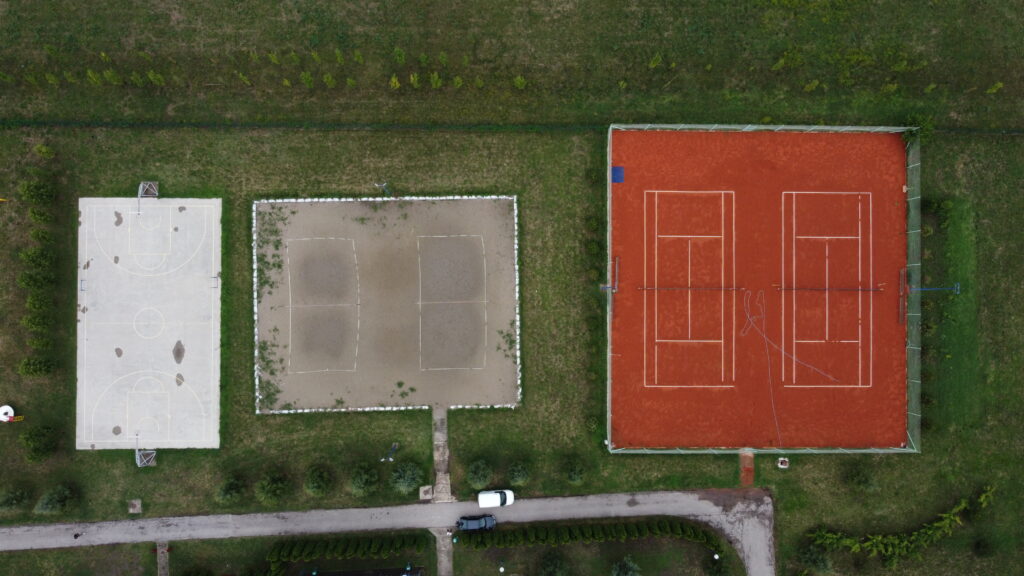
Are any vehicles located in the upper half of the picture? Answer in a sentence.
No, there is no vehicle in the upper half of the picture.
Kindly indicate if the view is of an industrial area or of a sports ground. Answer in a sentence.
The area seen from above is a sports ground.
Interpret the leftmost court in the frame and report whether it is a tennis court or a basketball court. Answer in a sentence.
Specifically, the leftmost court is a basketball court.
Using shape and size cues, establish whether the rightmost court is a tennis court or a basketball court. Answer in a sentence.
The rightmost court is a tennis court.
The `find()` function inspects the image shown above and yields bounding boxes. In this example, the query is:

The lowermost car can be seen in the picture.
[459,514,496,531]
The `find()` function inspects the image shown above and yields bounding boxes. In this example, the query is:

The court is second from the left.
[254,198,390,413]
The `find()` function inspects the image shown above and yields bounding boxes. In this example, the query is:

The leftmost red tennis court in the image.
[608,130,759,448]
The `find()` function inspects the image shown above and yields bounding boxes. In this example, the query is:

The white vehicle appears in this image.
[476,488,514,507]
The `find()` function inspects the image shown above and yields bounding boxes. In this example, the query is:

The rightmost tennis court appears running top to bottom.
[759,130,908,448]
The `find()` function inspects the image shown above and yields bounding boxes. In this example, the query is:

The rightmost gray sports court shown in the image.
[388,196,520,409]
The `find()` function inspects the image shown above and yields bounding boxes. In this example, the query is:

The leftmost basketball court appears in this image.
[76,198,221,449]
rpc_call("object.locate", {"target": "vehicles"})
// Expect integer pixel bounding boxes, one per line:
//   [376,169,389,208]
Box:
[459,514,496,531]
[476,488,514,507]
